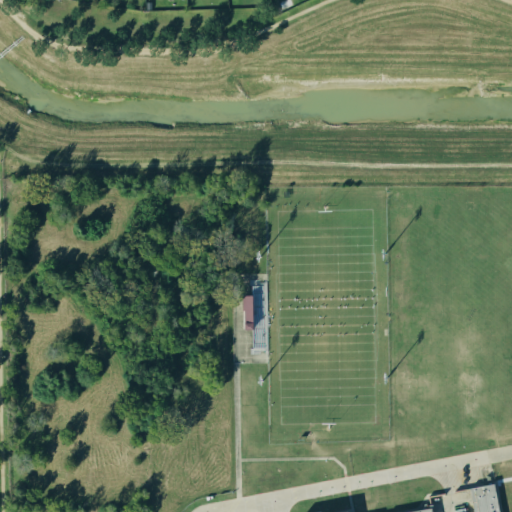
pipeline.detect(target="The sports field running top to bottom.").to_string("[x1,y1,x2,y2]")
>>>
[276,208,380,426]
